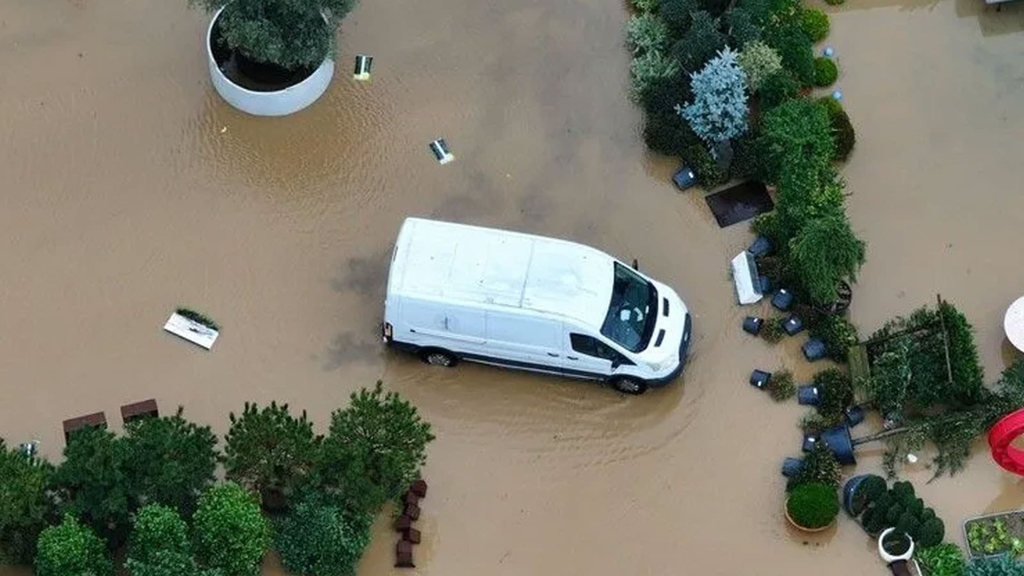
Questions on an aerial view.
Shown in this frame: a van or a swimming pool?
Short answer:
van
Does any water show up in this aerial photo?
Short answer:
Yes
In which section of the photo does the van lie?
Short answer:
center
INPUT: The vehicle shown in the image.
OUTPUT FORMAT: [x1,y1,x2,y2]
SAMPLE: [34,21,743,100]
[379,222,690,392]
